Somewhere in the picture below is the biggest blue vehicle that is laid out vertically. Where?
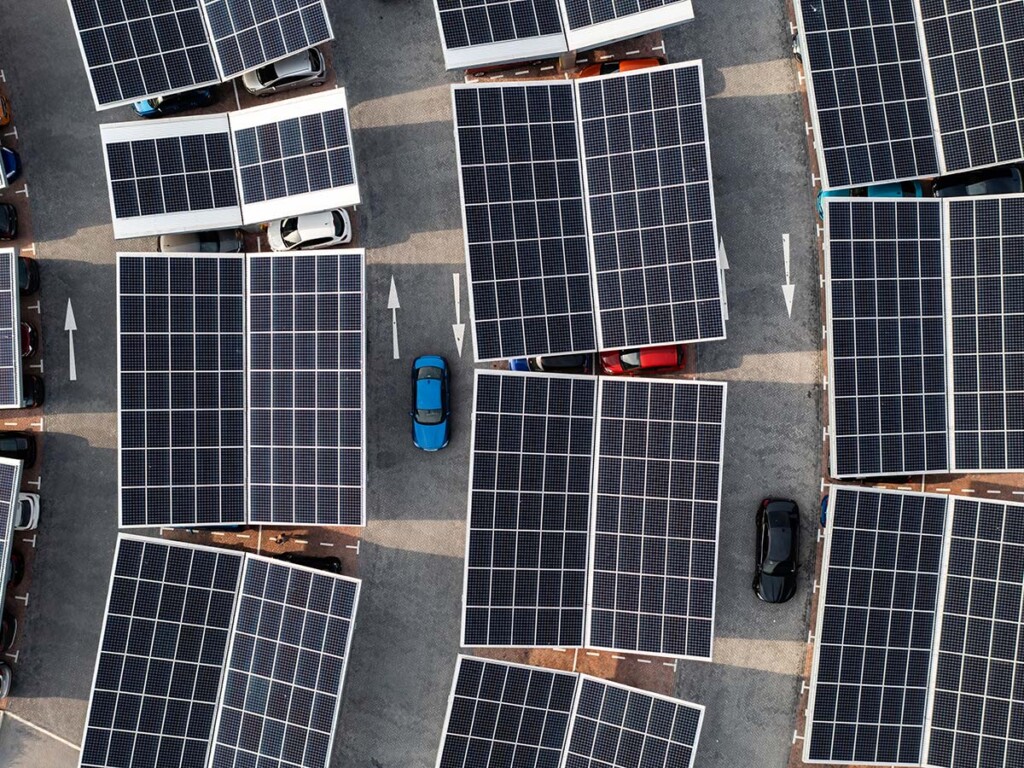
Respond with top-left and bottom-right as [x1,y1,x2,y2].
[407,355,452,451]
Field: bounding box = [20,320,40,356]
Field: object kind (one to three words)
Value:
car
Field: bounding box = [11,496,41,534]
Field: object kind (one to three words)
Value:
car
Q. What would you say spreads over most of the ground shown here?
buildings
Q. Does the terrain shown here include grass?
No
